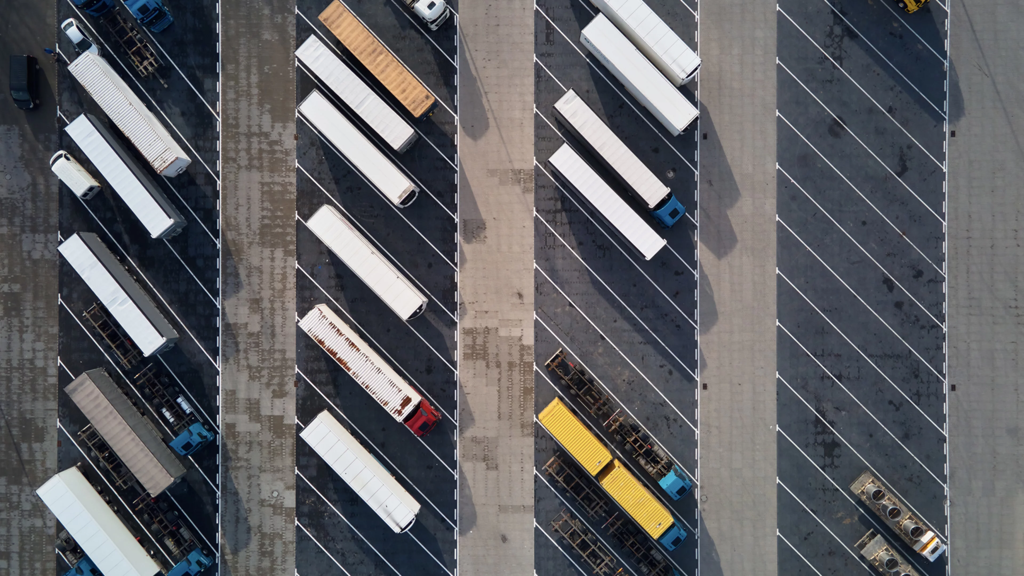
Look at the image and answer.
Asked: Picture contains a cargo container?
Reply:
Yes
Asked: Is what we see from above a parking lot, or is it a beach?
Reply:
parking lot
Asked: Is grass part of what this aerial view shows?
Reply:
No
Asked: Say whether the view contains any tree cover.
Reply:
No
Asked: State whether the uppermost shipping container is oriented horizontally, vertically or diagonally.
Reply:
diagonally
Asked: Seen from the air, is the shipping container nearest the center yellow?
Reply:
Yes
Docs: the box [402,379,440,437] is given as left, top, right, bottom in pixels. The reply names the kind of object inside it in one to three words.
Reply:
truck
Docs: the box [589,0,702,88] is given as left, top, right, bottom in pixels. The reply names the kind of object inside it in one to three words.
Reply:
trailer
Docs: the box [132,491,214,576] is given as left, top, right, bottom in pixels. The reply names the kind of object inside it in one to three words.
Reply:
truck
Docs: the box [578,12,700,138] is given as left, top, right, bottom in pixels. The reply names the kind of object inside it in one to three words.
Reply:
trailer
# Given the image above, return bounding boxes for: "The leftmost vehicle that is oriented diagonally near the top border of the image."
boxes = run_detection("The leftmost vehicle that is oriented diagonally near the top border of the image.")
[62,16,104,57]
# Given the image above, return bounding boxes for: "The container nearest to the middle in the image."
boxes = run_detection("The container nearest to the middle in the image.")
[539,398,613,475]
